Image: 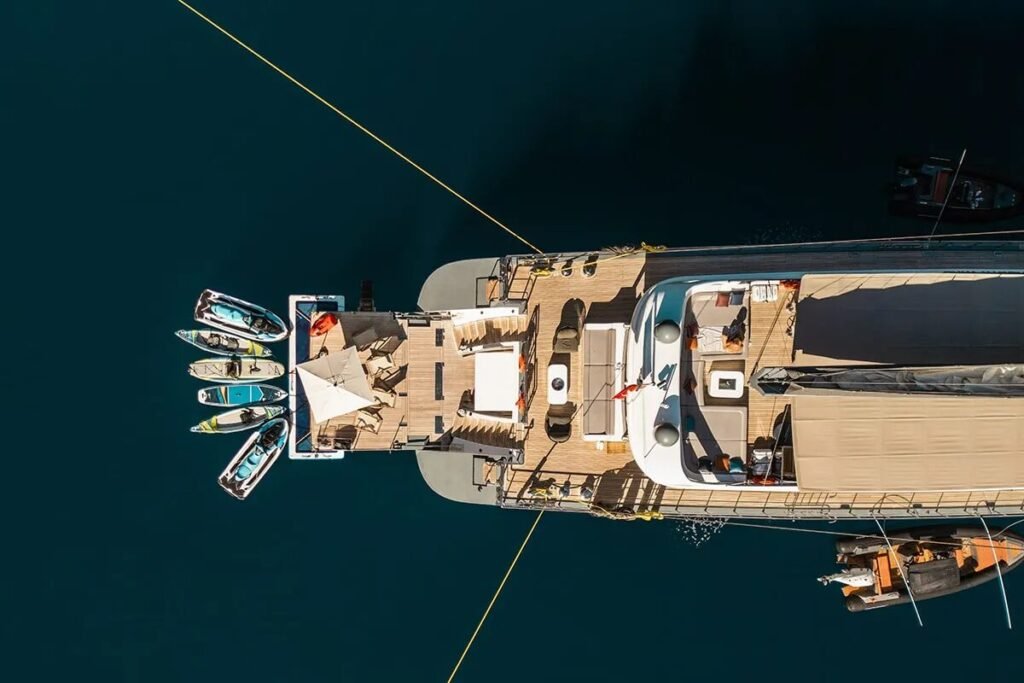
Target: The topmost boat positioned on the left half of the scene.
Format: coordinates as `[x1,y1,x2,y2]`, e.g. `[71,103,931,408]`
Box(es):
[195,286,284,343]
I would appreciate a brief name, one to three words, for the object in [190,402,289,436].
boat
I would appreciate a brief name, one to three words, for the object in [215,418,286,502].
boat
